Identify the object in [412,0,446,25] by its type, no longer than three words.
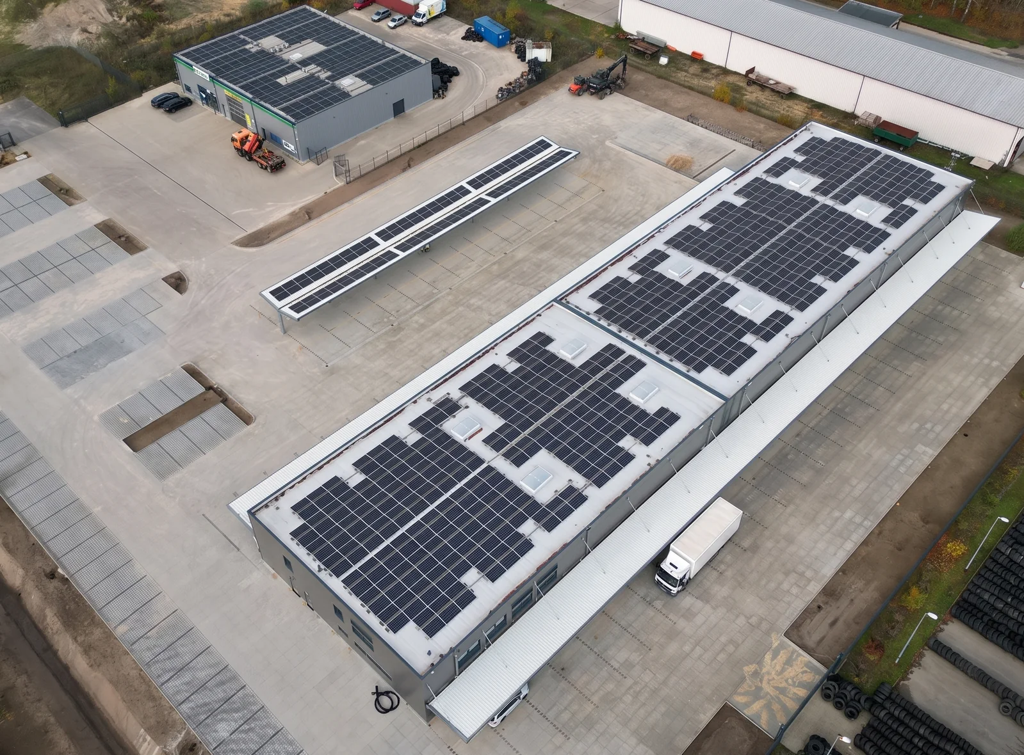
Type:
vehicle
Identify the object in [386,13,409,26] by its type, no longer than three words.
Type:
vehicle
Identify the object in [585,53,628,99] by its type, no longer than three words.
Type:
work vehicle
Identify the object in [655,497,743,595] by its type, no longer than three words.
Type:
truck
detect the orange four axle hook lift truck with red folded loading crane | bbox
[229,128,283,171]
